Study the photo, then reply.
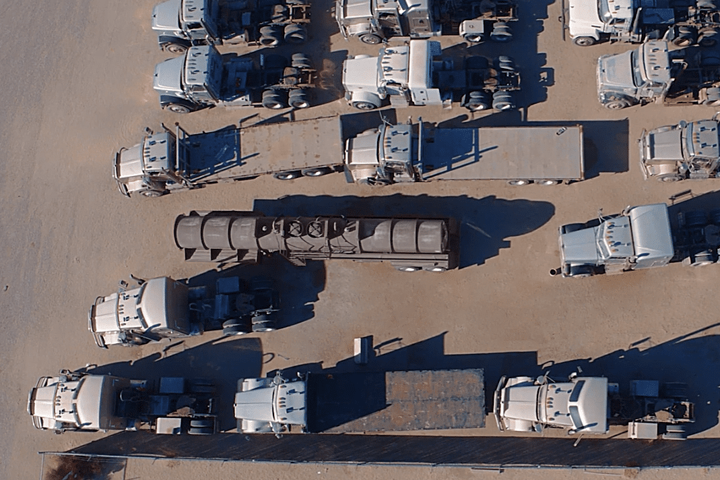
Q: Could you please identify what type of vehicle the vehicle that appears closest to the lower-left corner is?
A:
truck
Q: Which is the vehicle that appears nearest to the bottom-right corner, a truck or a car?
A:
truck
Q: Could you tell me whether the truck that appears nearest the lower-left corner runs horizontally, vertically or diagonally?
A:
horizontally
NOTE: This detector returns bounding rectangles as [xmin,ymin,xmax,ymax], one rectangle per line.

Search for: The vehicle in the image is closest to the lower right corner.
[492,366,698,442]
